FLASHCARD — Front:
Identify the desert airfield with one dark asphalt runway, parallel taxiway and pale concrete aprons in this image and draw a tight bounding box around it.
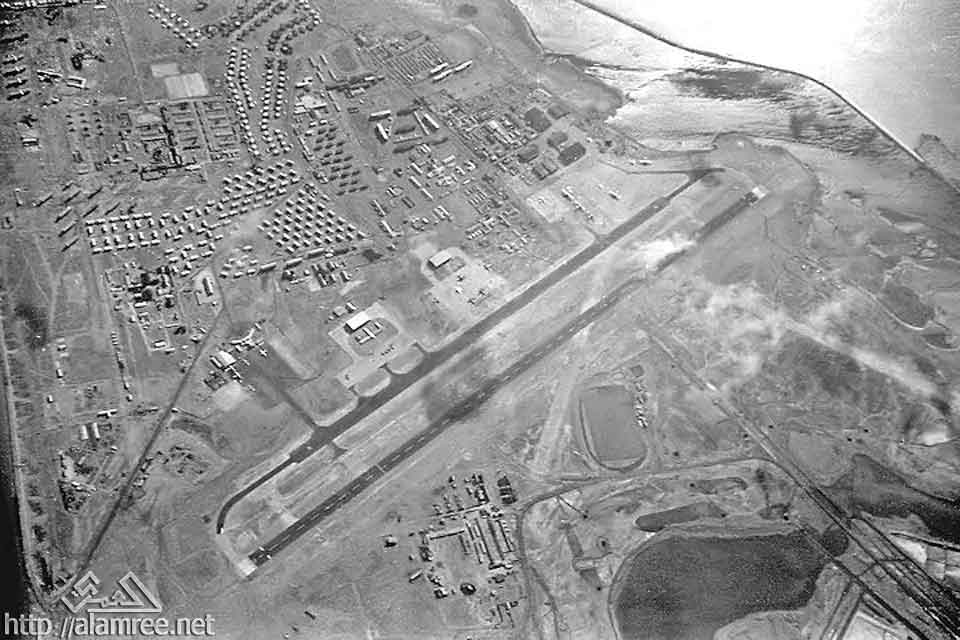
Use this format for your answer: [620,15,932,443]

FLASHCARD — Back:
[216,160,768,575]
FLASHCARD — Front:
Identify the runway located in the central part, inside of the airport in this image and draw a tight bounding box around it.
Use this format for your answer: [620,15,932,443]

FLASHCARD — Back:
[248,197,757,565]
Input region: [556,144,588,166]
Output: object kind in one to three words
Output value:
hangar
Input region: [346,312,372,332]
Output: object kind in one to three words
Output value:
hangar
